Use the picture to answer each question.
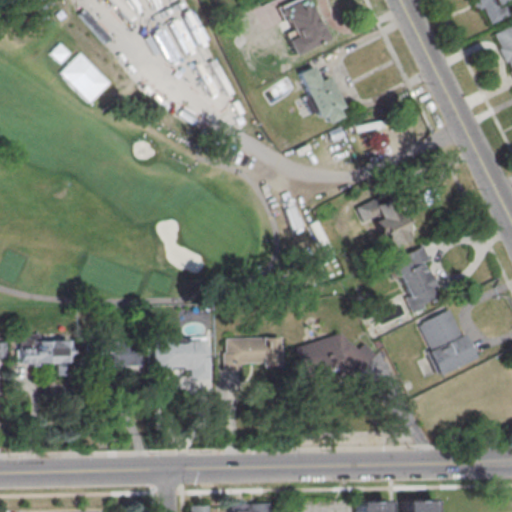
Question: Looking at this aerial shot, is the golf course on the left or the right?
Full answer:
You can find the golf course on the left side of the picture.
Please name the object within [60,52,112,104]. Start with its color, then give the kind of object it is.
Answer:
white tent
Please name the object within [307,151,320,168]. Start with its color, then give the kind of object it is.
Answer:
white vehicle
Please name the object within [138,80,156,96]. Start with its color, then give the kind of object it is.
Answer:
white vehicle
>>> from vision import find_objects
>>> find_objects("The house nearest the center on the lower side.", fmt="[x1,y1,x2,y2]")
[224,337,284,366]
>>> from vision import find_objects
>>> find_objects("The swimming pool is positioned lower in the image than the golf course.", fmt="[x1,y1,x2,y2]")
[182,320,206,336]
